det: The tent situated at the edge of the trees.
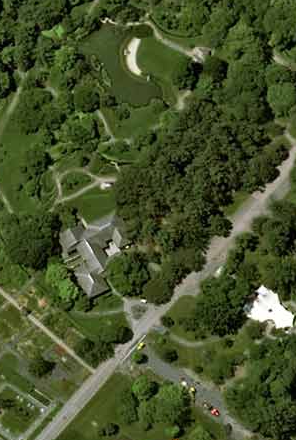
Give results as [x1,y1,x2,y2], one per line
[247,285,294,328]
